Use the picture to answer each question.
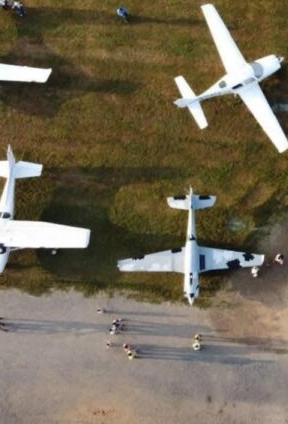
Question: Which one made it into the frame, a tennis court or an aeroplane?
aeroplane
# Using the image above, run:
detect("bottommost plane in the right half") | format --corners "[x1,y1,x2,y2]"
[118,184,263,306]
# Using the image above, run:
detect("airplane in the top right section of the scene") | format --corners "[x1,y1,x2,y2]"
[171,4,287,152]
